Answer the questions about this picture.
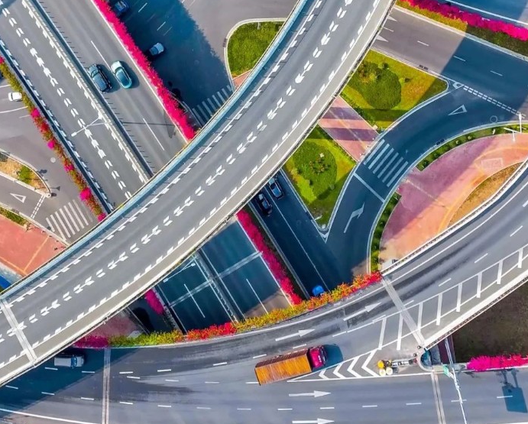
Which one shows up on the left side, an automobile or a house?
automobile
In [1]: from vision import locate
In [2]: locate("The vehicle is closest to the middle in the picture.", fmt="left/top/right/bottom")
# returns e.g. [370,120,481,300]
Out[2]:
[251,191,274,220]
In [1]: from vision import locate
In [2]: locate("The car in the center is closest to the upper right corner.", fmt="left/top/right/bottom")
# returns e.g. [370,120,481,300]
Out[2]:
[266,176,287,205]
